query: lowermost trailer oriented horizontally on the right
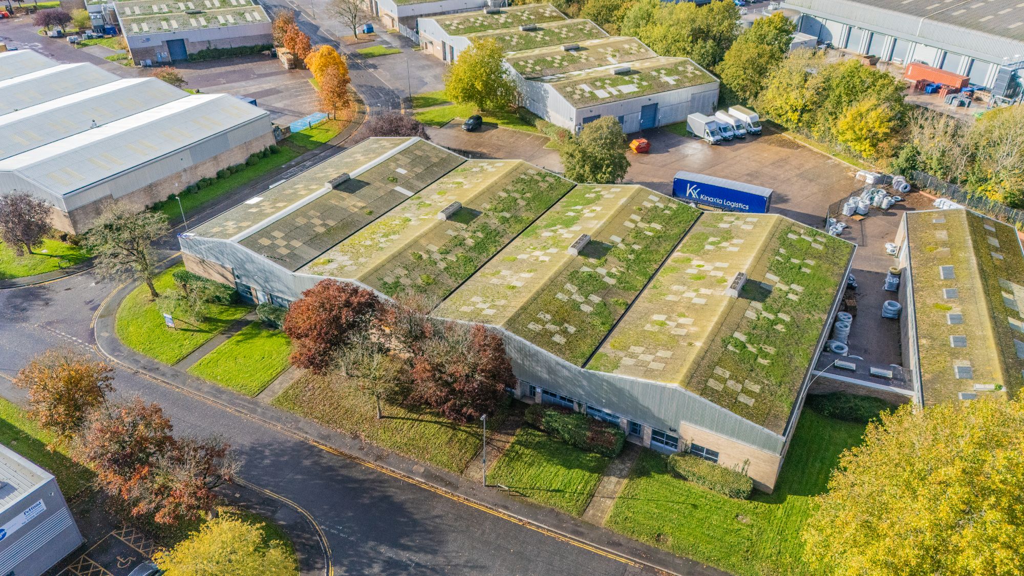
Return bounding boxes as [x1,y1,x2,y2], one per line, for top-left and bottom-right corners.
[673,172,771,211]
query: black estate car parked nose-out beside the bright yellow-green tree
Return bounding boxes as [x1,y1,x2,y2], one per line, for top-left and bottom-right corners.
[461,116,483,132]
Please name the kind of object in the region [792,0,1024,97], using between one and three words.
building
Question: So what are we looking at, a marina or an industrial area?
industrial area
